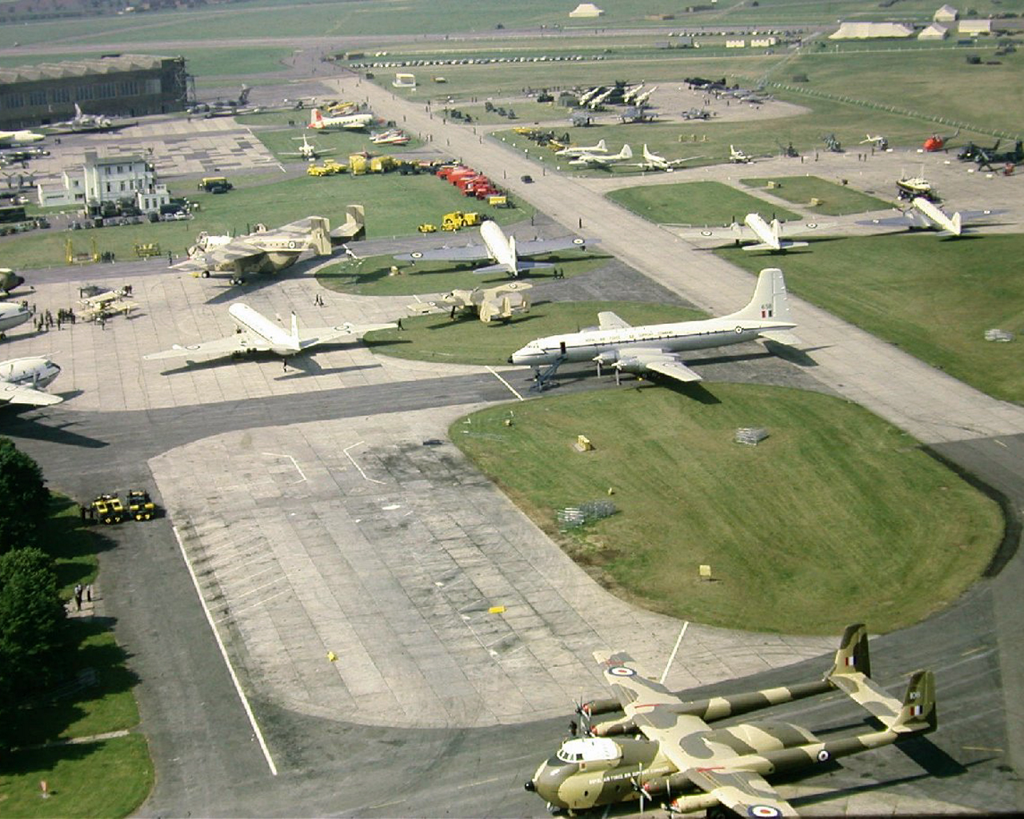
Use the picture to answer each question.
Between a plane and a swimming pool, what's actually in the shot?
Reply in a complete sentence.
There is a plane in the scene.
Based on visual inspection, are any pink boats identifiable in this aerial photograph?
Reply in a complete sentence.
No, no pink boat is visible in the scene.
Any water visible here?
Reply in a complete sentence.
No, there's no water in this view.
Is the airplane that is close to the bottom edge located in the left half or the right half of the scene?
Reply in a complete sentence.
The airplane that is close to the bottom edge is on the right side of the image.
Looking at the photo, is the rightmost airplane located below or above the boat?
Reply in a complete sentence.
The rightmost airplane is located below the boat in this view.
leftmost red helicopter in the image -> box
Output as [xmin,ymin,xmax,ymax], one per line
[921,130,968,152]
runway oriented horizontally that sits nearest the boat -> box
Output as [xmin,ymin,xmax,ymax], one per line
[0,16,1024,61]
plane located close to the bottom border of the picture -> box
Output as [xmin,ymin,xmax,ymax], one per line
[524,624,945,819]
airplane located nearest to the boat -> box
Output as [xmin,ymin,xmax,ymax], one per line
[853,201,1008,243]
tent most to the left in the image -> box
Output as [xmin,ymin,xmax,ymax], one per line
[565,3,604,17]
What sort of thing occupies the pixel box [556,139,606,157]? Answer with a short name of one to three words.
airplane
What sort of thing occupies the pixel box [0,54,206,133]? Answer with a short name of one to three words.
hangar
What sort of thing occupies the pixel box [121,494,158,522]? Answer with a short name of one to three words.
work vehicle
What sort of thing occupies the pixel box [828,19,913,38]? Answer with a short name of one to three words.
tent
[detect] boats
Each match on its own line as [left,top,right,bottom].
[894,164,940,200]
